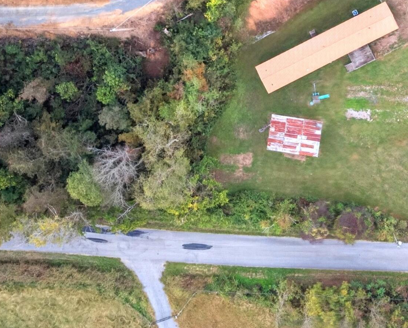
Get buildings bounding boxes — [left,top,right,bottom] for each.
[267,114,323,156]
[256,2,398,93]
